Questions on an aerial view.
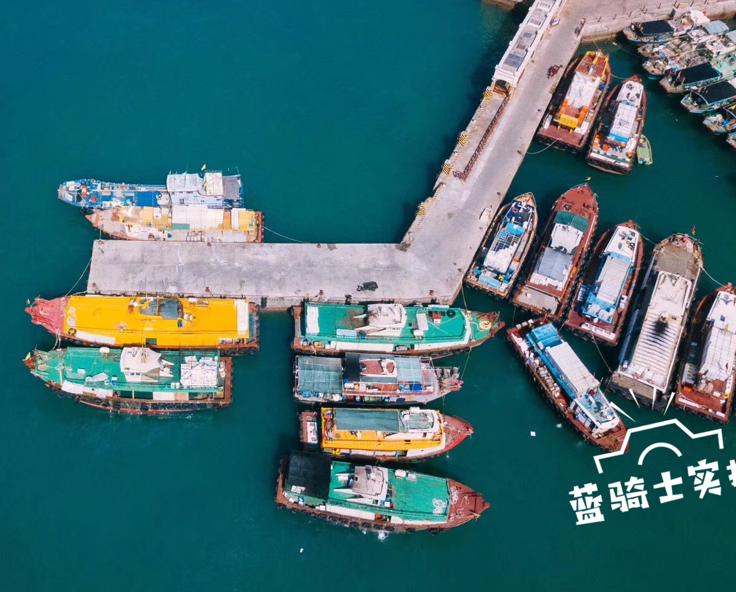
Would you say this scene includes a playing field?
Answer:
No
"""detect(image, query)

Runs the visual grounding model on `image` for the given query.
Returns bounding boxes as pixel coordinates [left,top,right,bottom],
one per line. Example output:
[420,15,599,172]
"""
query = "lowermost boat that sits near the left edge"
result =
[20,338,236,411]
